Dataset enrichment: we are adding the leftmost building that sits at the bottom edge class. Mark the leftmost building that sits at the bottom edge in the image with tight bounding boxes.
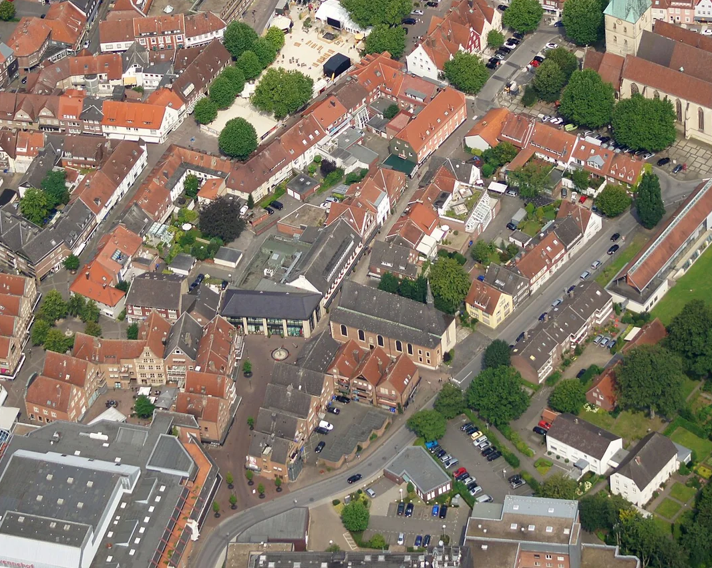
[0,409,222,568]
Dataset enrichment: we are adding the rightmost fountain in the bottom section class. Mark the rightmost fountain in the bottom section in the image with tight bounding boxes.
[270,348,289,361]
